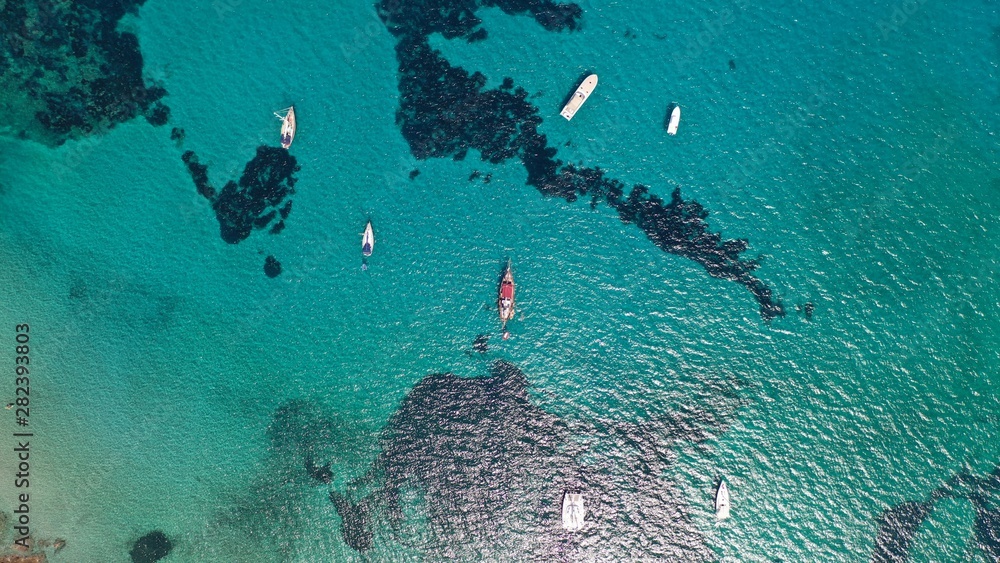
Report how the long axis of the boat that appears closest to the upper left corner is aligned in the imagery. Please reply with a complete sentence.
The boat that appears closest to the upper left corner is oriented from top to bottom.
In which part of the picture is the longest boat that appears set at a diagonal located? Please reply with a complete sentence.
The longest boat that appears set at a diagonal sits in the top section of the image.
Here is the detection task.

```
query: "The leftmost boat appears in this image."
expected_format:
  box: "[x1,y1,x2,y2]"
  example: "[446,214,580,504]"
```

[275,106,297,150]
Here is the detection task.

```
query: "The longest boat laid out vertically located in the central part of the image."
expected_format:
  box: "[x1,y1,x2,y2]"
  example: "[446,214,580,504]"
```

[498,260,515,330]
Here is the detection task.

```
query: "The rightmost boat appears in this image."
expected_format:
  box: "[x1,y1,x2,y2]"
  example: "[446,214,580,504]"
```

[716,481,734,518]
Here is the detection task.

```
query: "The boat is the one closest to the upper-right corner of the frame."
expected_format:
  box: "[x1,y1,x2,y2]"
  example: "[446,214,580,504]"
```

[668,105,681,137]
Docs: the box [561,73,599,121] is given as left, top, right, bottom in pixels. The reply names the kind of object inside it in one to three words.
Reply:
boat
